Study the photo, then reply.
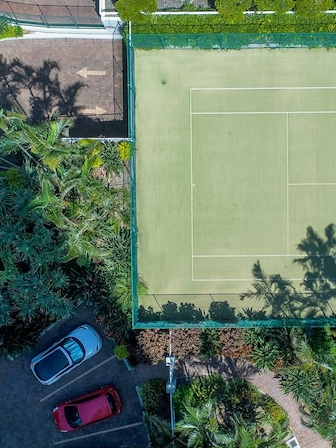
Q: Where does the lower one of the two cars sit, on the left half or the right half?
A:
left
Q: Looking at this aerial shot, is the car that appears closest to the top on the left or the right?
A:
left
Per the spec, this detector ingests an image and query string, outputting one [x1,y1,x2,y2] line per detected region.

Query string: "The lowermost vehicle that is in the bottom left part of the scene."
[52,385,127,431]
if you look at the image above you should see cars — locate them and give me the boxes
[26,321,106,387]
[52,385,127,431]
